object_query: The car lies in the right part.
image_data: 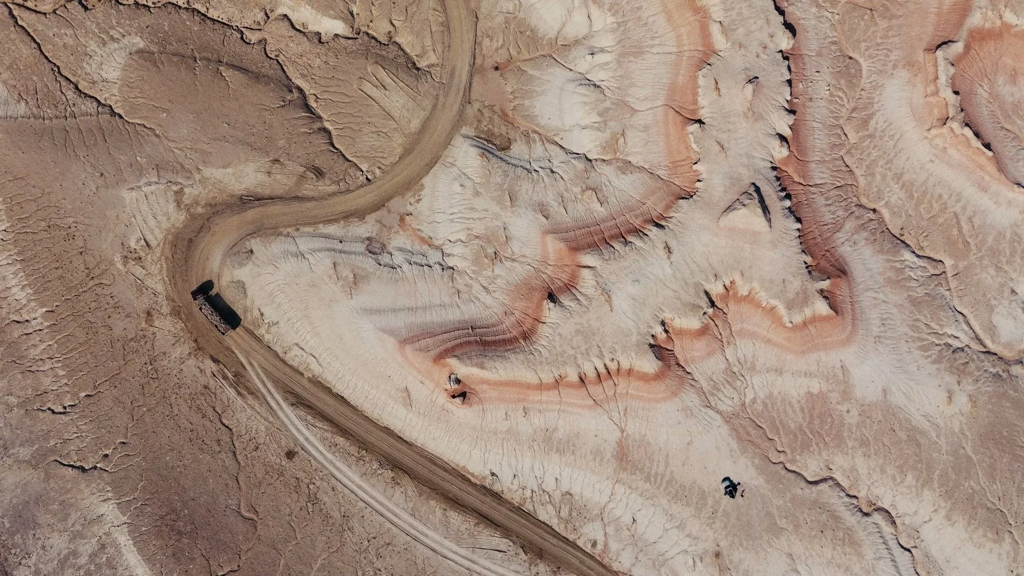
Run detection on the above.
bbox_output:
[721,478,736,500]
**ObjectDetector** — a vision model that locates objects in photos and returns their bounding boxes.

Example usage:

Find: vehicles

[721,478,736,500]
[190,286,238,337]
